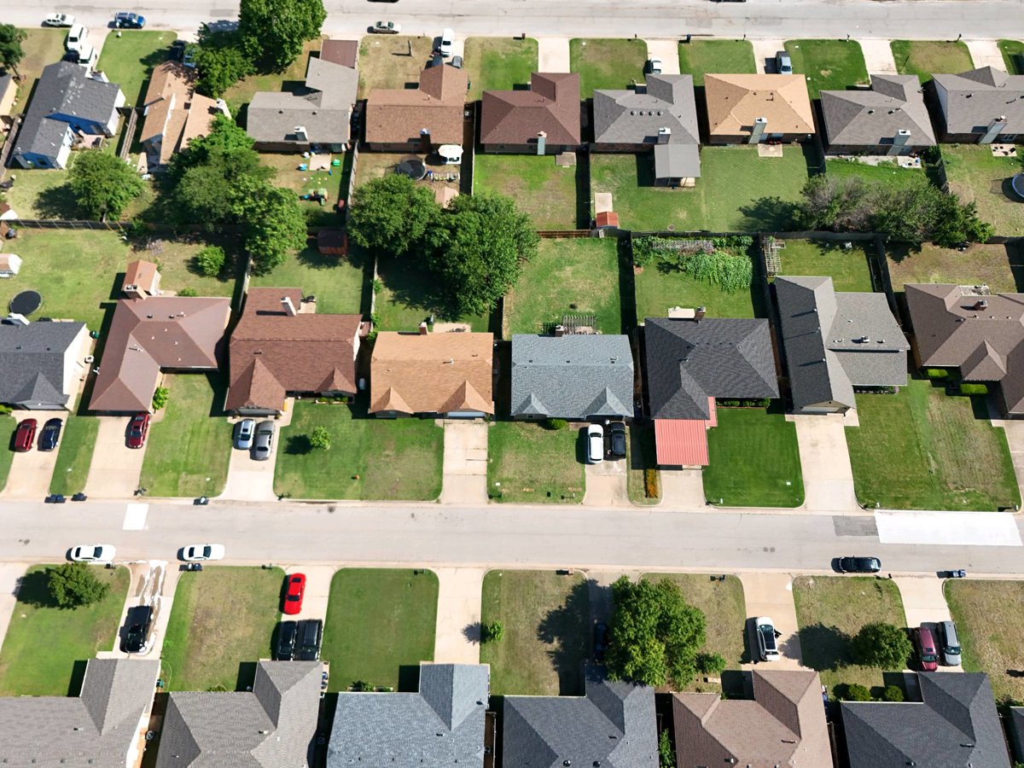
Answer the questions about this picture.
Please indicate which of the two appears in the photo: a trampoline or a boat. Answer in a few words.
trampoline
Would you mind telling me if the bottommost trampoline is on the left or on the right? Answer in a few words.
left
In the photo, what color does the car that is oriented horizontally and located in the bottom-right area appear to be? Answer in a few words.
black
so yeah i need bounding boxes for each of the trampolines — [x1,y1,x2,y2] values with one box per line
[10,290,44,315]
[1010,167,1024,197]
[397,153,426,180]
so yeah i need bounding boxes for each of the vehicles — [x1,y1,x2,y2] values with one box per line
[910,627,939,671]
[71,544,116,564]
[254,421,276,460]
[586,427,604,463]
[38,418,64,452]
[68,23,90,51]
[609,422,627,457]
[65,48,82,65]
[11,418,40,453]
[284,573,306,615]
[650,58,663,74]
[754,617,783,661]
[429,55,443,67]
[181,543,225,563]
[775,53,791,74]
[440,32,454,56]
[170,39,187,61]
[124,603,153,655]
[46,13,76,28]
[835,555,880,575]
[182,46,199,67]
[127,415,151,449]
[934,621,963,665]
[452,55,464,71]
[298,619,322,662]
[82,44,104,73]
[234,417,256,451]
[274,619,299,661]
[115,14,148,29]
[372,22,401,35]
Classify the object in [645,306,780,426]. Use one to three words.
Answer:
house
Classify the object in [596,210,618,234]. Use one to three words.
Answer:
shed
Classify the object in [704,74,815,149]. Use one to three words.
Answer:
house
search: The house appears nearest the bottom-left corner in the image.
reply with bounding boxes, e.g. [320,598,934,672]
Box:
[0,657,167,768]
